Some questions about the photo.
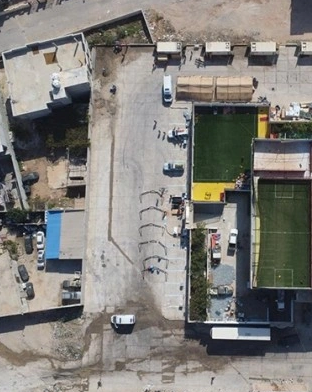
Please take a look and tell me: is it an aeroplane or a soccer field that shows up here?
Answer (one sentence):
This aerial view contains a soccer field.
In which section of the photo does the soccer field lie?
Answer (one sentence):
The soccer field sits in the right section of the image.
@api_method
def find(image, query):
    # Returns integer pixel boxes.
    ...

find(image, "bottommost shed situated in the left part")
[45,209,85,259]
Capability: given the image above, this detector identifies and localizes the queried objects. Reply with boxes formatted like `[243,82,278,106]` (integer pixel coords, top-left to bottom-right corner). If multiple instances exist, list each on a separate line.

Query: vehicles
[210,231,221,263]
[35,230,45,250]
[60,279,74,288]
[227,227,237,251]
[35,250,45,268]
[162,75,172,103]
[23,235,33,254]
[23,181,31,195]
[111,314,135,325]
[25,281,35,300]
[210,325,271,341]
[162,162,184,172]
[61,291,82,301]
[17,263,30,283]
[167,129,189,139]
[22,172,41,182]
